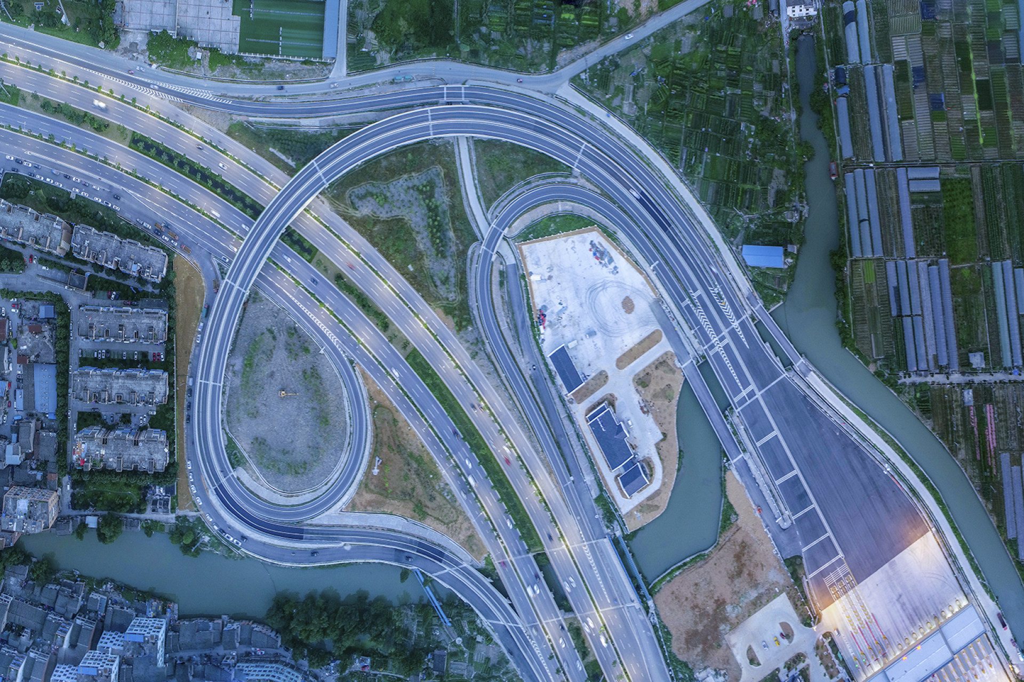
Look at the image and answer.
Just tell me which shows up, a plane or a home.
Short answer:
home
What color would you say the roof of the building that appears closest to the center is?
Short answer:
blue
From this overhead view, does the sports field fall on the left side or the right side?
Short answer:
left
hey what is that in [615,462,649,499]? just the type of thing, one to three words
house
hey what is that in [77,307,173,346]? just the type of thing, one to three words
building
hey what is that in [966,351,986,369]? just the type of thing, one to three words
shed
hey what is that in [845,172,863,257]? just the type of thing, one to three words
greenhouse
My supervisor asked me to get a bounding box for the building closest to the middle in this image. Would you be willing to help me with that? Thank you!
[547,343,585,396]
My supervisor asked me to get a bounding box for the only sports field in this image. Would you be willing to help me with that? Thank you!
[234,0,323,58]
